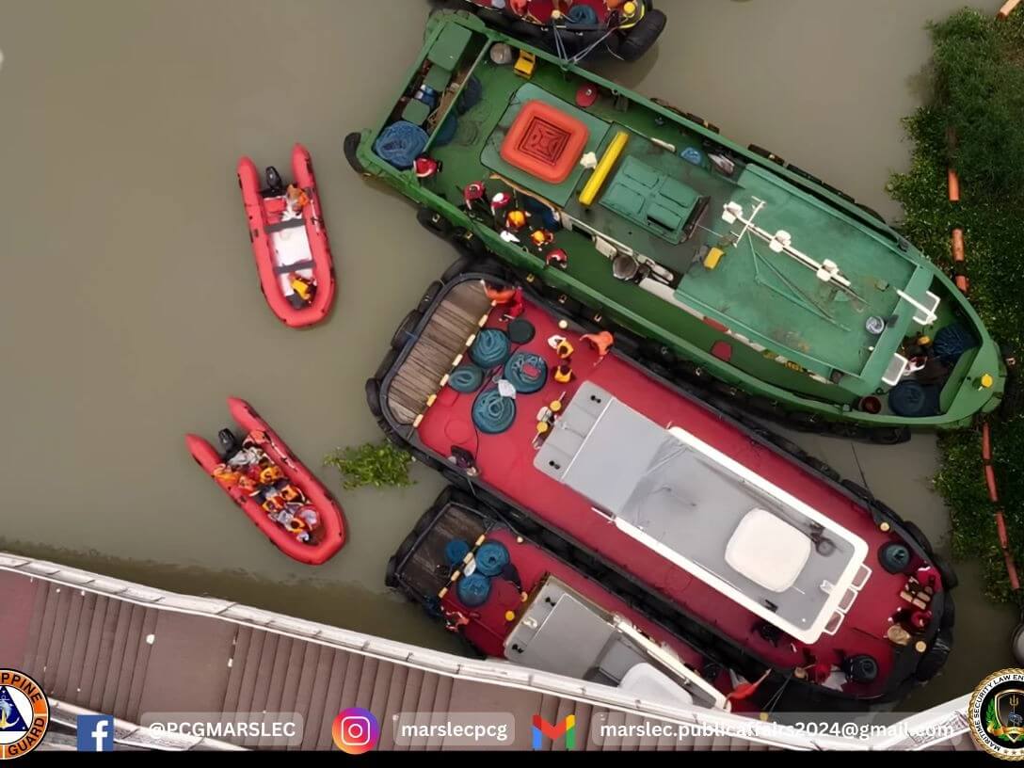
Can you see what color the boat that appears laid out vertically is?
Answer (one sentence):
The boat that appears laid out vertically looks red in the image.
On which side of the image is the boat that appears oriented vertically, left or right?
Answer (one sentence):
The boat that appears oriented vertically is on the left side of the image.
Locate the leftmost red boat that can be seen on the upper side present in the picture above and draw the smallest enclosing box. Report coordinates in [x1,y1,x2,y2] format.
[238,144,337,329]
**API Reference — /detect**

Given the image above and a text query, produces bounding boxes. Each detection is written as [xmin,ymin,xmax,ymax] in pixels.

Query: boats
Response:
[341,1,1017,442]
[381,477,767,718]
[363,256,956,707]
[238,144,337,329]
[433,0,671,63]
[187,397,347,563]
